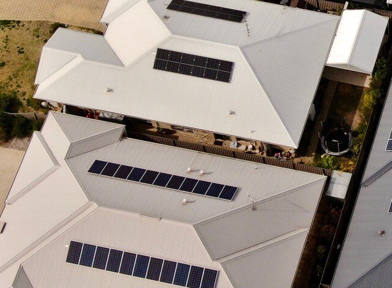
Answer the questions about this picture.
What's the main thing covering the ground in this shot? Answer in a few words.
buildings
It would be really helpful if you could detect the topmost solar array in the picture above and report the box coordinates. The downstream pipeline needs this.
[167,0,246,23]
